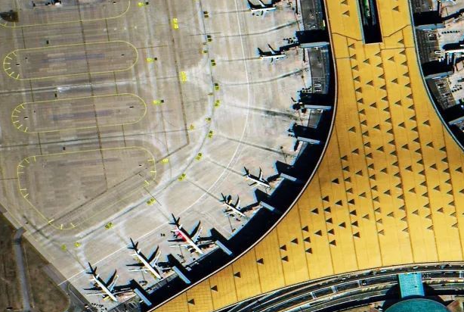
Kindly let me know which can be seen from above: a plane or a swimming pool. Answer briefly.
plane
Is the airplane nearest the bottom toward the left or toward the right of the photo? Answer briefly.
left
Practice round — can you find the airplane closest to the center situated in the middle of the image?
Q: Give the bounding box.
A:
[246,169,271,190]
